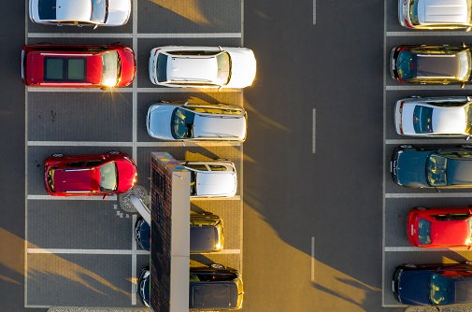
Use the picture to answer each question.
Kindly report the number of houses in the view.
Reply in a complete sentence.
No houses are visible.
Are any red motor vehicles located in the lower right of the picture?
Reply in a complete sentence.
Yes, looking in the lower right of the picture, one can make out a red motor vehicle.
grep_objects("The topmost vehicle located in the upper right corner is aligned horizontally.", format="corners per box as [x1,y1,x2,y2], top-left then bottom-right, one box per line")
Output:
[396,0,472,34]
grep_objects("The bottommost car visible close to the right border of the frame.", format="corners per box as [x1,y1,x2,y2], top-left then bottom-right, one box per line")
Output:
[390,259,472,312]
